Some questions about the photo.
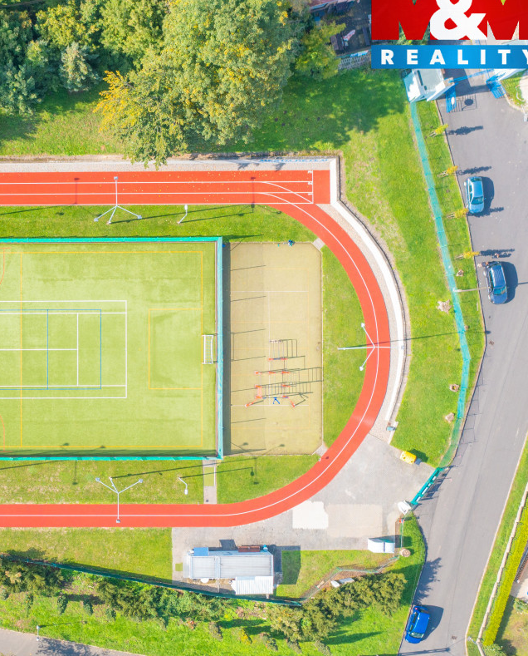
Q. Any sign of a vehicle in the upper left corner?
No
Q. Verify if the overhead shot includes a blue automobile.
Yes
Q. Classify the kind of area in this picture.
sports ground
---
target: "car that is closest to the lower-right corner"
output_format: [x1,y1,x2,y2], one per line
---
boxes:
[403,605,430,642]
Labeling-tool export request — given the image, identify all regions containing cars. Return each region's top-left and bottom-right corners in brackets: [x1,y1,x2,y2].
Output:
[482,262,508,305]
[464,175,486,215]
[403,605,430,642]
